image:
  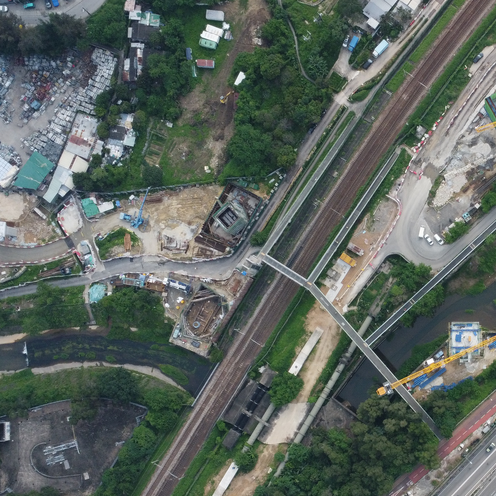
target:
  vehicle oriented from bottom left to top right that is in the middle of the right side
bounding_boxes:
[463,204,480,221]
